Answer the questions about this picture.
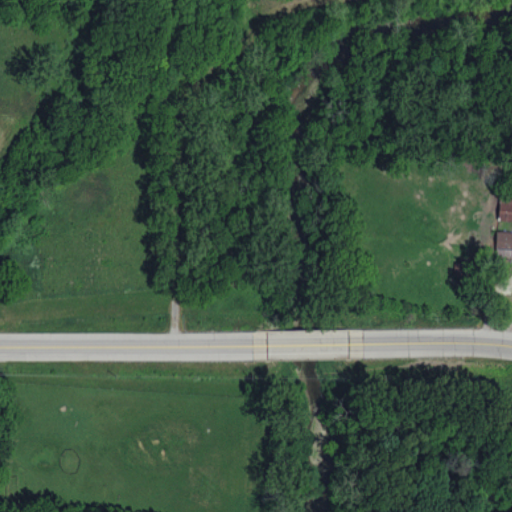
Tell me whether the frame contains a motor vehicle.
No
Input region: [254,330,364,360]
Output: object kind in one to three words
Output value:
bridge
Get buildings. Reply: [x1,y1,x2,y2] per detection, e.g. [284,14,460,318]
[497,232,512,260]
[500,201,512,221]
